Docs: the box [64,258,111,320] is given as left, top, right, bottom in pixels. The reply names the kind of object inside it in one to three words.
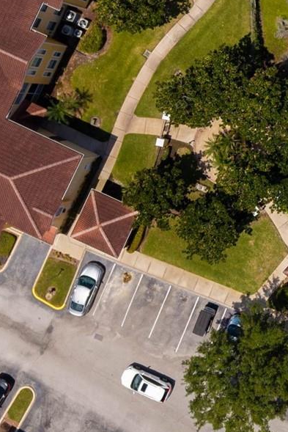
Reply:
car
